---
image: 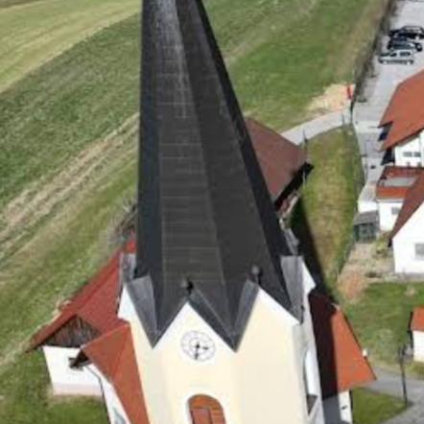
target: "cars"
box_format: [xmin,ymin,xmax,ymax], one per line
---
[391,24,424,39]
[389,35,424,50]
[379,47,416,64]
